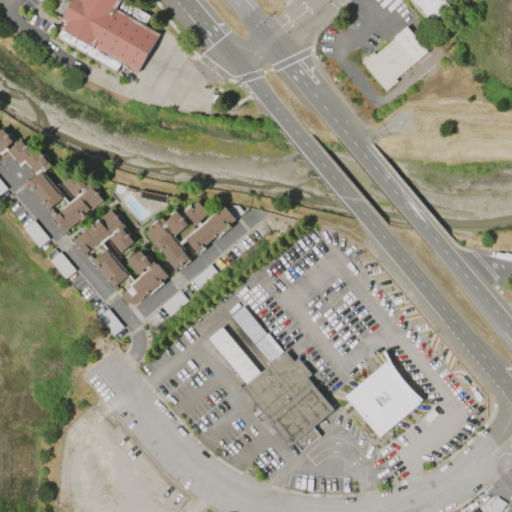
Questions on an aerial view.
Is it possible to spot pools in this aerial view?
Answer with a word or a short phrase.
Yes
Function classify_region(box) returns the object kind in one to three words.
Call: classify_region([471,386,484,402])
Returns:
vehicle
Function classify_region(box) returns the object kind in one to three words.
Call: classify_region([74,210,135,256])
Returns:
house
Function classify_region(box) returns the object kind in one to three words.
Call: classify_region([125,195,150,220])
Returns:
swimming pool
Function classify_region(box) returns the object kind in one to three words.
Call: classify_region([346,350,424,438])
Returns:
building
